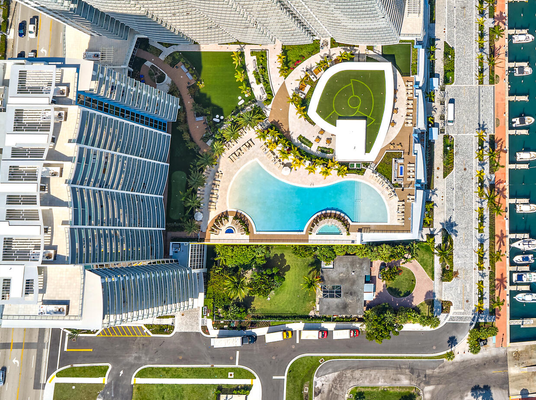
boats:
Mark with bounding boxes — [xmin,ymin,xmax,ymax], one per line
[511,240,536,251]
[510,66,532,75]
[514,293,536,303]
[511,34,534,43]
[513,273,536,283]
[513,255,536,264]
[514,203,536,213]
[513,152,536,161]
[511,117,534,126]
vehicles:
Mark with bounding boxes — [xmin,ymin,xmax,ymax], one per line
[331,329,359,340]
[28,48,38,59]
[207,335,256,347]
[0,367,6,384]
[298,329,327,340]
[378,262,386,279]
[28,19,38,37]
[262,331,292,343]
[18,22,26,37]
[17,49,25,58]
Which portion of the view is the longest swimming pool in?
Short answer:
center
